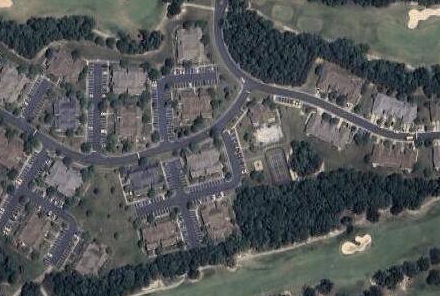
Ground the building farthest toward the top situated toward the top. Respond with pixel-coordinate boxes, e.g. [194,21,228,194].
[175,26,205,64]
